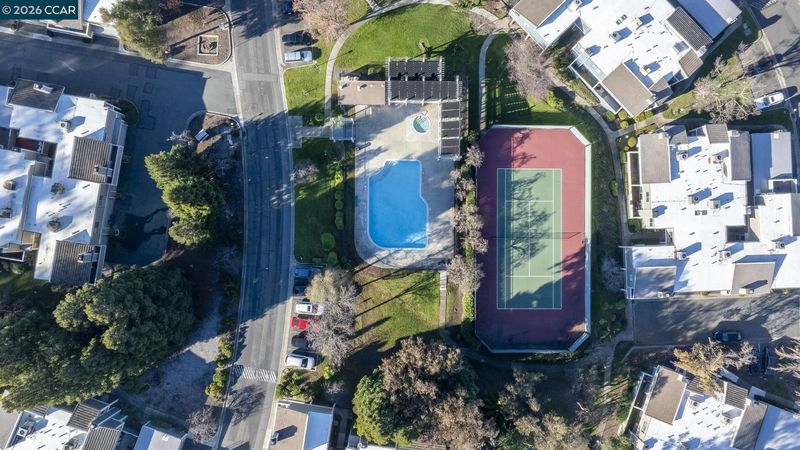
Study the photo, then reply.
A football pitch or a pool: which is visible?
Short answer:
pool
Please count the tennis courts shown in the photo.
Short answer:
one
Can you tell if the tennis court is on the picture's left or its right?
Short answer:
right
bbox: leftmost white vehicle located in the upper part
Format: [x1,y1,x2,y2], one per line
[283,49,313,63]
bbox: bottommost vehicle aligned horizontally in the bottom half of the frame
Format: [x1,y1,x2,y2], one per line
[286,354,316,369]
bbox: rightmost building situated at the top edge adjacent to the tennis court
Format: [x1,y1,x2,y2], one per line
[493,0,741,130]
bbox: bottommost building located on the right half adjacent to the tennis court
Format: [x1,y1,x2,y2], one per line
[612,357,800,450]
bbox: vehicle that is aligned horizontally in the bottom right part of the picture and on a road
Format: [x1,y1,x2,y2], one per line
[712,330,742,344]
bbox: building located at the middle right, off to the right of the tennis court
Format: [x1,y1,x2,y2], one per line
[604,123,800,299]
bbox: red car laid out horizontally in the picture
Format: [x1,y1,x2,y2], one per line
[292,316,320,329]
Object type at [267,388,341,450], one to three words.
building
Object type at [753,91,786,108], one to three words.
car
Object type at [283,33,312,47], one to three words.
car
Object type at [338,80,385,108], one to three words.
building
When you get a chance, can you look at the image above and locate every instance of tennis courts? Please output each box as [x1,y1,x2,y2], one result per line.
[476,123,592,357]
